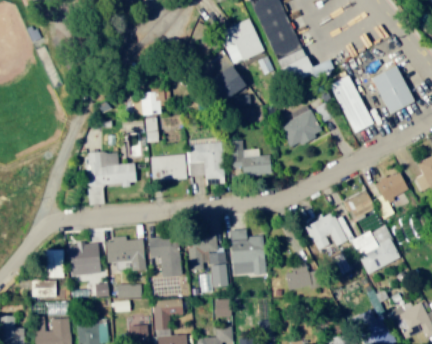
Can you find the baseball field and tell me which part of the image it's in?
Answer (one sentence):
Look in the top left portion of the view to spot the baseball field.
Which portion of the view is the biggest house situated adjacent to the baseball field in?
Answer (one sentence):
The biggest house situated adjacent to the baseball field sits in the left section of the image.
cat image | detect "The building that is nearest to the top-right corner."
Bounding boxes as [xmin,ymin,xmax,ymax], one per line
[374,66,416,114]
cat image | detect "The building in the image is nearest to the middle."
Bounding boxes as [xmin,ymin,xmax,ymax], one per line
[188,142,226,184]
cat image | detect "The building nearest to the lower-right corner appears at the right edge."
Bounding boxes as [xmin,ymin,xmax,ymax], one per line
[400,304,432,342]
